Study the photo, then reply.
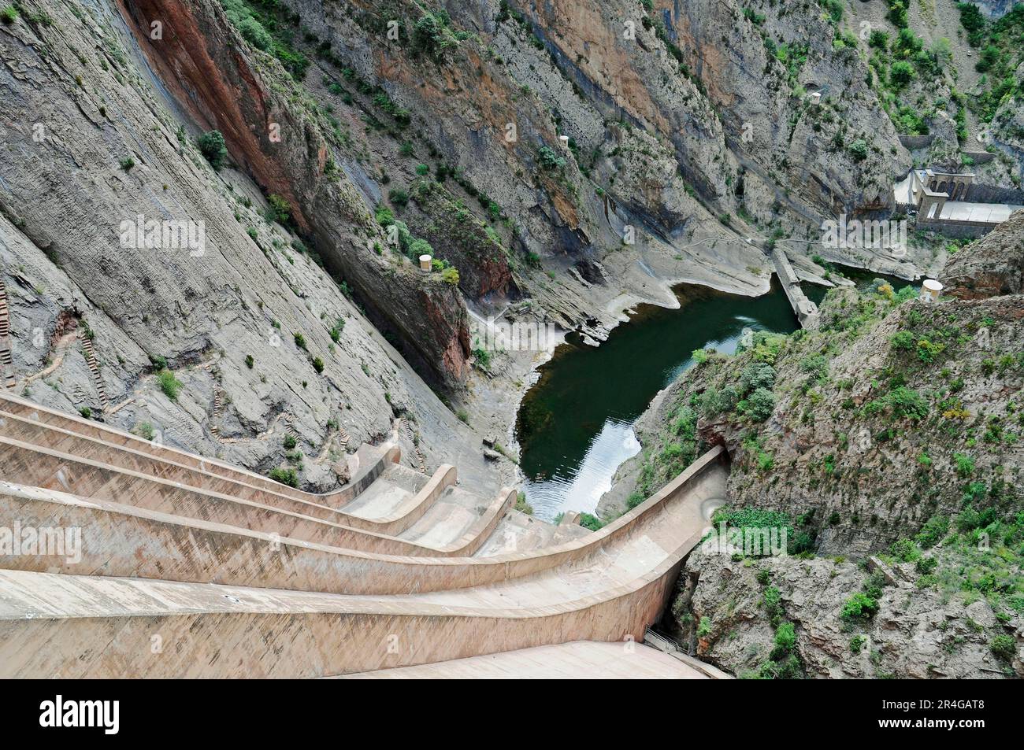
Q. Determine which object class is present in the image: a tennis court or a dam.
dam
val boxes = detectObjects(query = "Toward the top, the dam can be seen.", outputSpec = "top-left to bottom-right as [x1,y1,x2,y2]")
[772,241,817,321]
